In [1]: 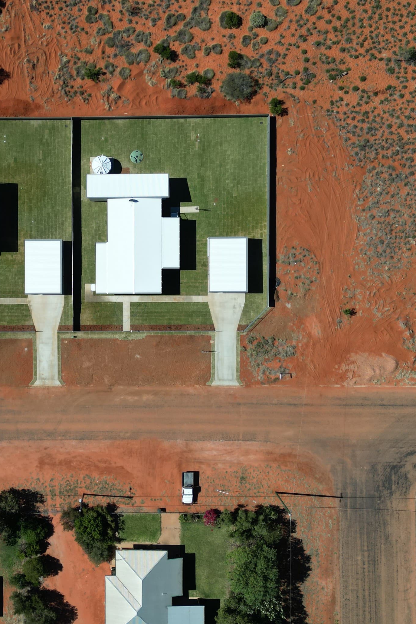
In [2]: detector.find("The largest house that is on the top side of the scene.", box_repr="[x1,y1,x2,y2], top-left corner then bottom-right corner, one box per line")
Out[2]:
[87,174,180,294]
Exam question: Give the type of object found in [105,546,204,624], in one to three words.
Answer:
house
